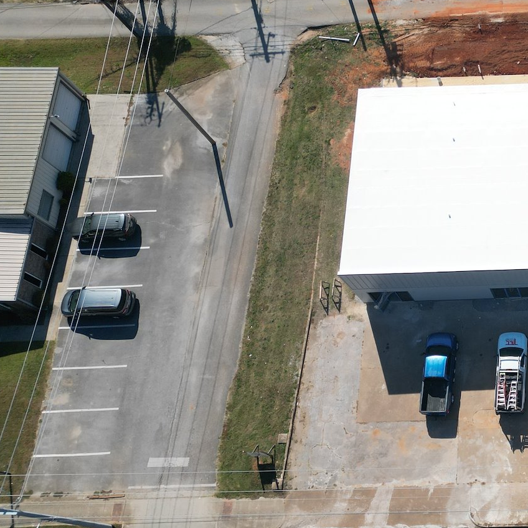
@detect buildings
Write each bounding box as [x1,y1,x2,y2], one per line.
[0,64,93,317]
[338,74,528,303]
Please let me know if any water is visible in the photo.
No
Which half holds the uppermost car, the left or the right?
left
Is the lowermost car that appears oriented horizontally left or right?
left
